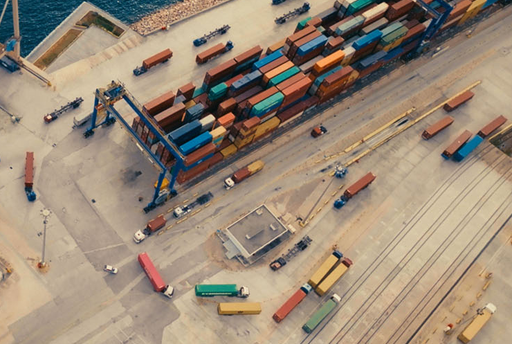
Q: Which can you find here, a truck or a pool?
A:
truck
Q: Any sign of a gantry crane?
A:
Yes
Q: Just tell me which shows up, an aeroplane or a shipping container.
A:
shipping container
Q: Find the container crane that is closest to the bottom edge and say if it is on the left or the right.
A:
left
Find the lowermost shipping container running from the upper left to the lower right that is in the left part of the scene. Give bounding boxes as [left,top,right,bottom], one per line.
[137,249,170,289]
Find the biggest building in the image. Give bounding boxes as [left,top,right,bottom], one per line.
[219,204,292,266]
